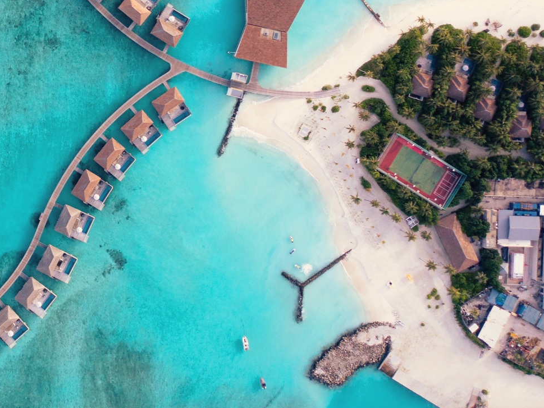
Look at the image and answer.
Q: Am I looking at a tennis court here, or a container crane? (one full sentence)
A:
It is a tennis court that can be seen here.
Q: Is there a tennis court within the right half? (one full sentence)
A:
Yes, a tennis court appears within the right half.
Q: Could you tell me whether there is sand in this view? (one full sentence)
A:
Yes, there is sand in the image.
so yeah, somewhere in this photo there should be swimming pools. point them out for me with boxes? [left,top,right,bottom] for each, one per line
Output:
[518,97,529,110]
[12,326,30,343]
[492,79,502,94]
[120,157,137,175]
[463,58,475,73]
[170,7,190,22]
[99,185,114,205]
[172,111,192,127]
[65,257,79,277]
[144,133,162,149]
[42,294,58,313]
[82,216,95,236]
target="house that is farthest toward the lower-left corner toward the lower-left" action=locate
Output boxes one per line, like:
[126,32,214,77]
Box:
[0,302,26,350]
